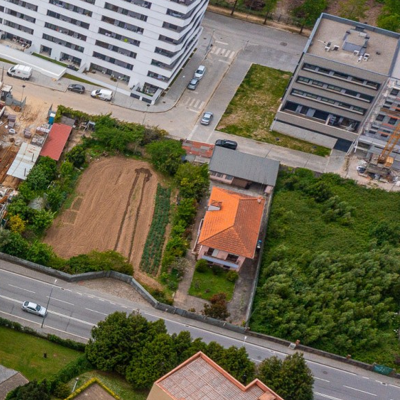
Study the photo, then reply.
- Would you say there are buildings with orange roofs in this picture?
Yes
